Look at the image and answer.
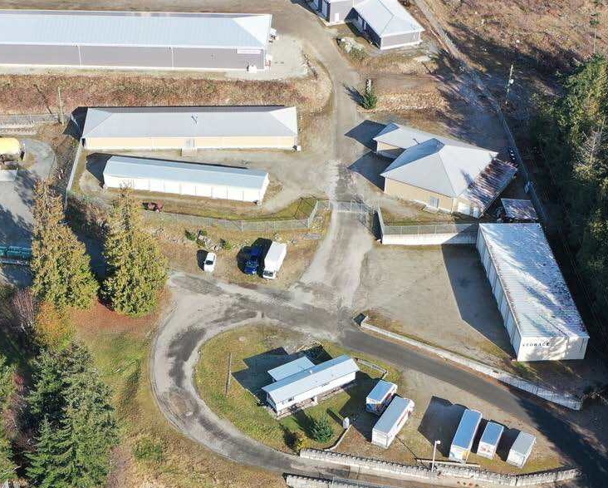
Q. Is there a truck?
Yes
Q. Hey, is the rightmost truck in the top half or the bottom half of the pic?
bottom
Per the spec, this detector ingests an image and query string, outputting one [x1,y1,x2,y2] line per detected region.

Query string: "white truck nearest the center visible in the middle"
[261,237,287,277]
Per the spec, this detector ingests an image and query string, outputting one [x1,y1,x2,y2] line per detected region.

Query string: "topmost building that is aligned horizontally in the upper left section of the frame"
[0,9,273,70]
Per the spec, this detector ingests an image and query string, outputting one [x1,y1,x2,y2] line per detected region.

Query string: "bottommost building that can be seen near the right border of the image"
[475,221,590,359]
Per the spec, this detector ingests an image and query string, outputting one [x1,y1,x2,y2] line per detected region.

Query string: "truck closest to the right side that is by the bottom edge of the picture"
[506,430,541,466]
